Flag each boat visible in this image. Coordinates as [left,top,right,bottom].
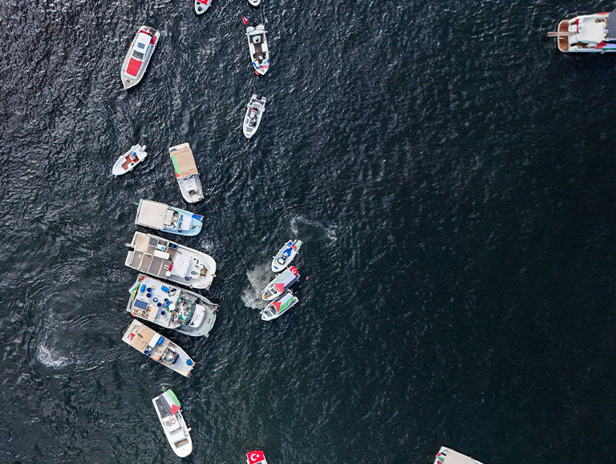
[273,238,301,271]
[127,276,220,331]
[153,388,191,458]
[263,265,300,299]
[124,25,159,91]
[432,446,485,464]
[125,233,216,288]
[122,319,195,378]
[111,144,146,175]
[262,289,297,320]
[169,144,199,203]
[245,91,268,142]
[543,12,616,54]
[135,200,203,234]
[247,23,271,75]
[195,0,212,15]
